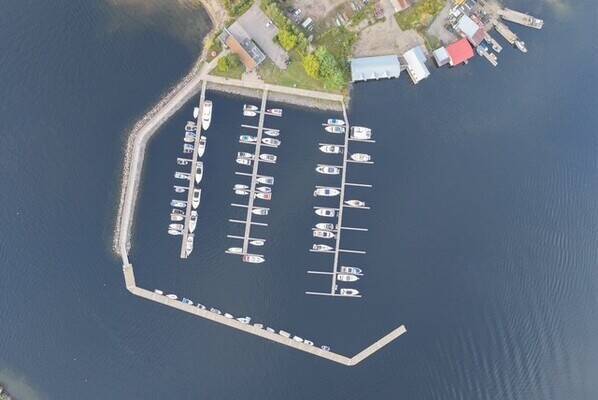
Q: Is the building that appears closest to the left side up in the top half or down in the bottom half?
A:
top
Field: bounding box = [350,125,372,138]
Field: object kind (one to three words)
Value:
boat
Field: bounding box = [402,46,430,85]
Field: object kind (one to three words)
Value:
building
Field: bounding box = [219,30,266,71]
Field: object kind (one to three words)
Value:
building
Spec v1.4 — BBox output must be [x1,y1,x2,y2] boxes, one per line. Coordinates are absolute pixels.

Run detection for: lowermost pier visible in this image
[121,249,408,367]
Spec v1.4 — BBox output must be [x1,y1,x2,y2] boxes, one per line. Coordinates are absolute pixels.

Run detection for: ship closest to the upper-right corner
[533,16,545,29]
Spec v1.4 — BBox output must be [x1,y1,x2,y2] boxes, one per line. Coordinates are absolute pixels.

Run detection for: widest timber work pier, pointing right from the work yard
[502,8,534,27]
